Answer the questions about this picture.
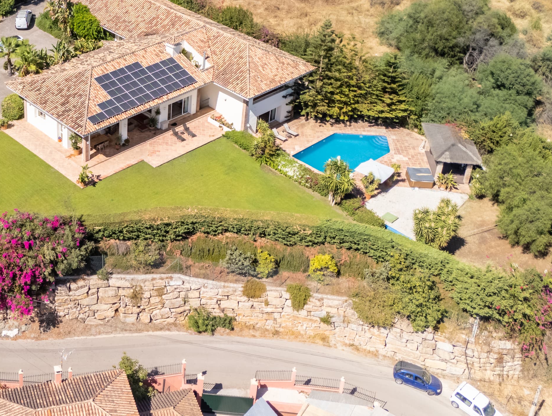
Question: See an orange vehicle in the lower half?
No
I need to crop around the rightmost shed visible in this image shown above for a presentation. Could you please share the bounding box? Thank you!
[416,120,483,189]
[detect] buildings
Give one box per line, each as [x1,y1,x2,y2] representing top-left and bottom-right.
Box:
[0,362,141,416]
[416,120,483,189]
[3,0,317,161]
